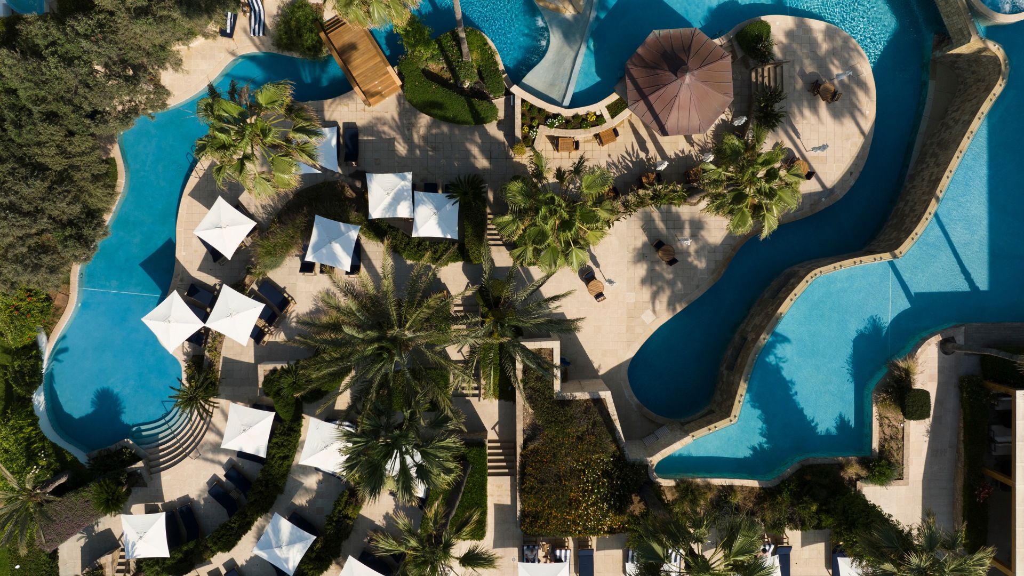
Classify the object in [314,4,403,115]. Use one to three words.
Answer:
bridge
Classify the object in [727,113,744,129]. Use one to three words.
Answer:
umbrella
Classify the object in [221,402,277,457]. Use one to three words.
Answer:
umbrella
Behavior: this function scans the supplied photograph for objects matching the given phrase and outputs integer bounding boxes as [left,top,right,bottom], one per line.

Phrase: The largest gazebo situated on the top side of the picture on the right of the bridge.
[625,27,734,139]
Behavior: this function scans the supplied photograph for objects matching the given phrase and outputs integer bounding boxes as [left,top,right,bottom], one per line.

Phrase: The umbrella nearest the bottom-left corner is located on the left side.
[123,509,173,560]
